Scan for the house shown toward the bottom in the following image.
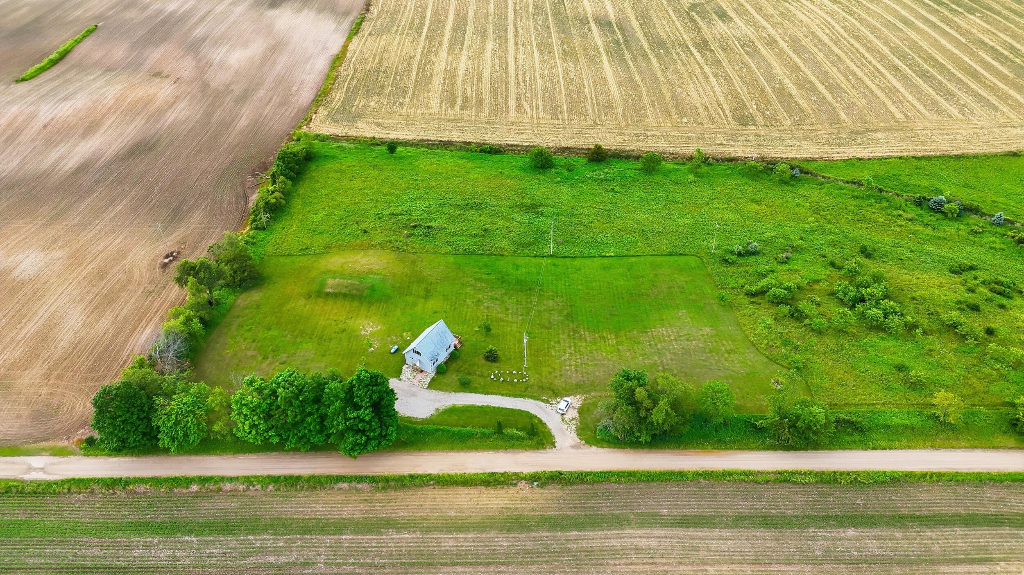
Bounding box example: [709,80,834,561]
[401,321,463,375]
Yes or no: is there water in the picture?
No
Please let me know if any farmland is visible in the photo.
Yes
